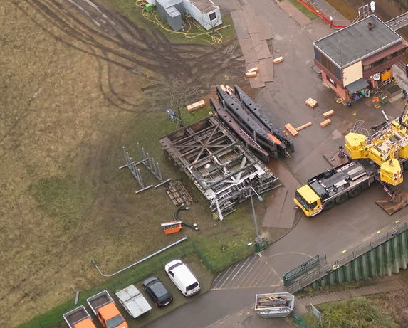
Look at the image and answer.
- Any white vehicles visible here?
Yes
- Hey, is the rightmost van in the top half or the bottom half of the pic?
bottom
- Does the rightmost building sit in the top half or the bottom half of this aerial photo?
top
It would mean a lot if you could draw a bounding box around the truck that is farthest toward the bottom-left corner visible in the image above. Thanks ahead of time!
[60,302,100,328]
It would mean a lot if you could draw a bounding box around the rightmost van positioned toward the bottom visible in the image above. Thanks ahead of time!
[165,259,203,301]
